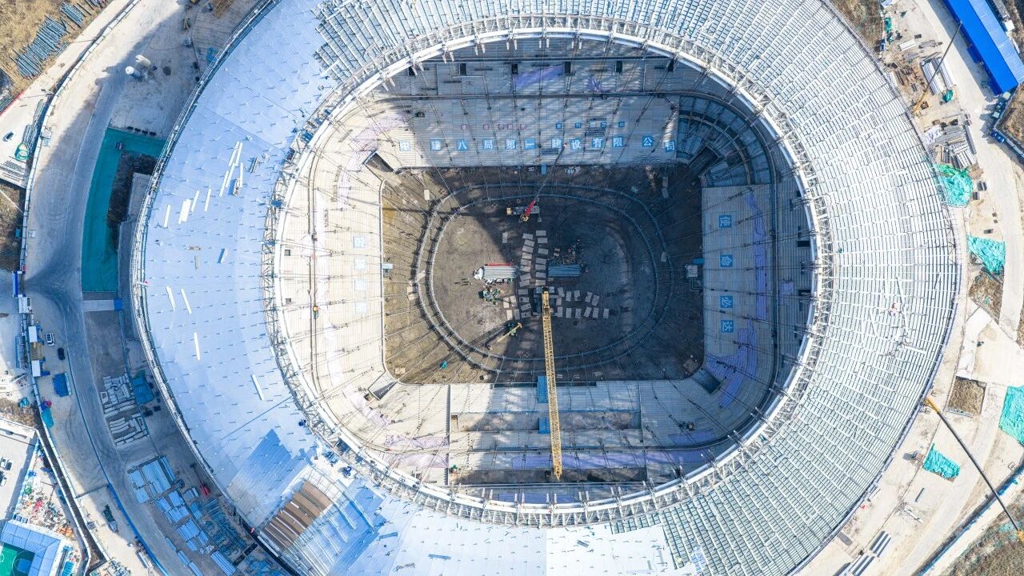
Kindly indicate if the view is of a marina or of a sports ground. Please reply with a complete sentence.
This looks like a sports ground.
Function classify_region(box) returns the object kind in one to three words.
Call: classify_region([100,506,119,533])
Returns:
vehicle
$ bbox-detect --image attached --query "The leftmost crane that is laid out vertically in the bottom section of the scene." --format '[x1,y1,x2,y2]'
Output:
[536,287,562,481]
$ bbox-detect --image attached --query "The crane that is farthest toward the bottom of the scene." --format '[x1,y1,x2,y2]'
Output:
[917,388,1024,538]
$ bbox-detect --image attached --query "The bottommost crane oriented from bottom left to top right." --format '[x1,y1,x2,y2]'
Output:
[506,144,566,223]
